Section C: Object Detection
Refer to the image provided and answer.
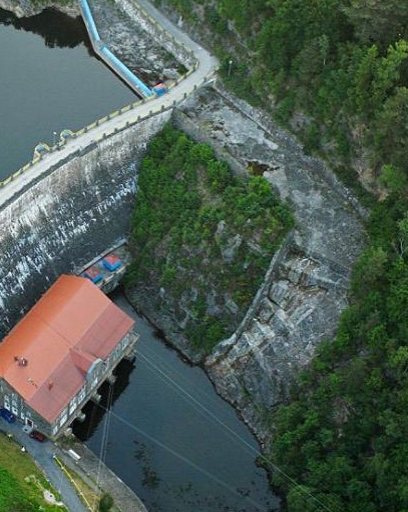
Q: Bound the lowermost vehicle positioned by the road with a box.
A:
[28,426,48,443]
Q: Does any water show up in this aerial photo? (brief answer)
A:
Yes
